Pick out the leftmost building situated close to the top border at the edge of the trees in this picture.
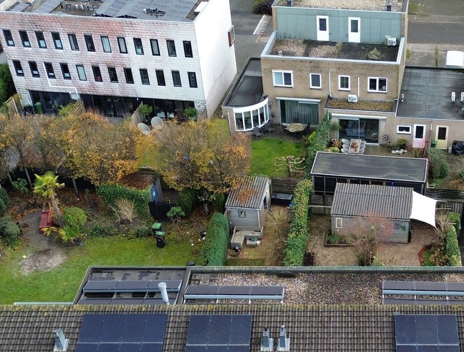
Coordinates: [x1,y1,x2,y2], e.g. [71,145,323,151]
[0,0,236,120]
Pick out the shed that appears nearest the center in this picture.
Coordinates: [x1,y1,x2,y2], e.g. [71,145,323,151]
[222,175,269,232]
